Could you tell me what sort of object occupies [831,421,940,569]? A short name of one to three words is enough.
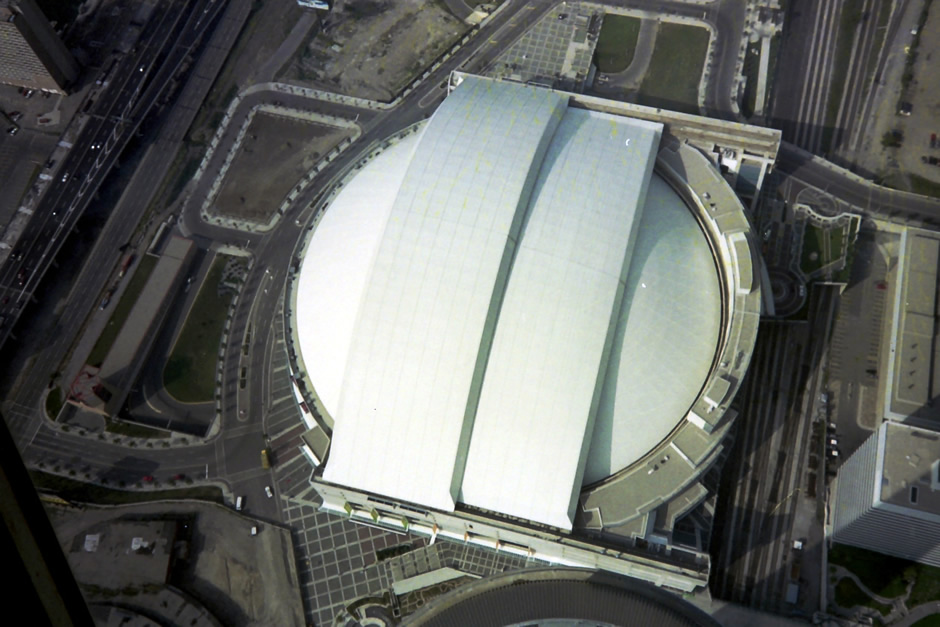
building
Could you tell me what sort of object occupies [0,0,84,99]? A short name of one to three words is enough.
building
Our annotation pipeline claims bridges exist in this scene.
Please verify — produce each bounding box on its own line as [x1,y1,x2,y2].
[772,140,940,233]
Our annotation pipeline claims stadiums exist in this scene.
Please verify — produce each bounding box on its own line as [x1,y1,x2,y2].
[285,73,780,599]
